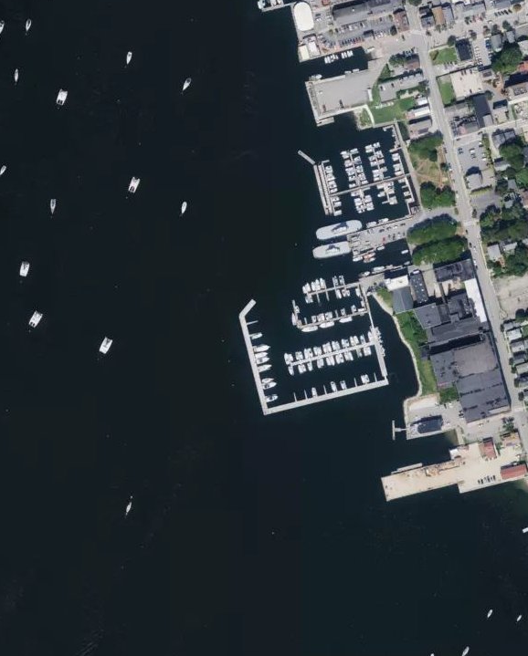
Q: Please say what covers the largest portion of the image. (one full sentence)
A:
What you mostly see from above here is water.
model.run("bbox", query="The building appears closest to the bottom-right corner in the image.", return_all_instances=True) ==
[501,462,528,482]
